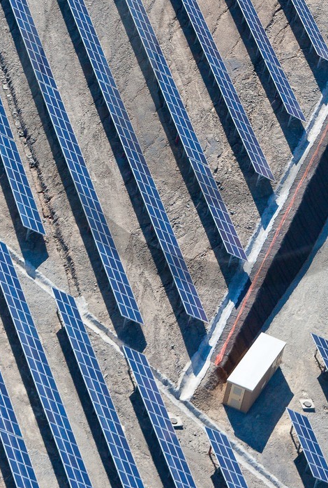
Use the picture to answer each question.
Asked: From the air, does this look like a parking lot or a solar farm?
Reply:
solar farm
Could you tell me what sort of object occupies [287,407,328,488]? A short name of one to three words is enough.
solar array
